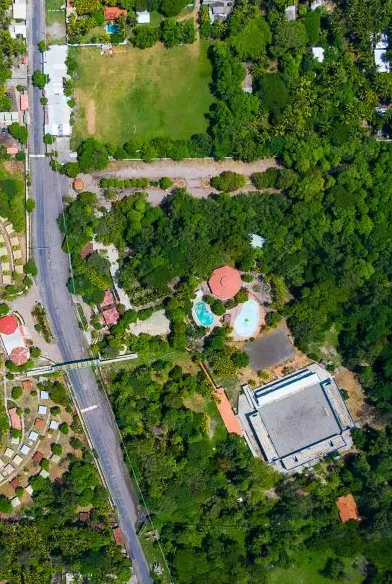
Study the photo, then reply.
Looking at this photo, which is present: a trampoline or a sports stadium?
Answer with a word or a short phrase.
sports stadium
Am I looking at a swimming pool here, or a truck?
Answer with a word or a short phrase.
swimming pool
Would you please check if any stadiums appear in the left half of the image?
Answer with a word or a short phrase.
No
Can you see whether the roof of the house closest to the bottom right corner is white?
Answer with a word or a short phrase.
No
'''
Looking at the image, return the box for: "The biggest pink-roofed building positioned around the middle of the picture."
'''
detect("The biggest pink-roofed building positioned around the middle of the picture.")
[208,265,242,299]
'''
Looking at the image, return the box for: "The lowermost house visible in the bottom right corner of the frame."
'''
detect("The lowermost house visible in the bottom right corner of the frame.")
[335,493,360,523]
